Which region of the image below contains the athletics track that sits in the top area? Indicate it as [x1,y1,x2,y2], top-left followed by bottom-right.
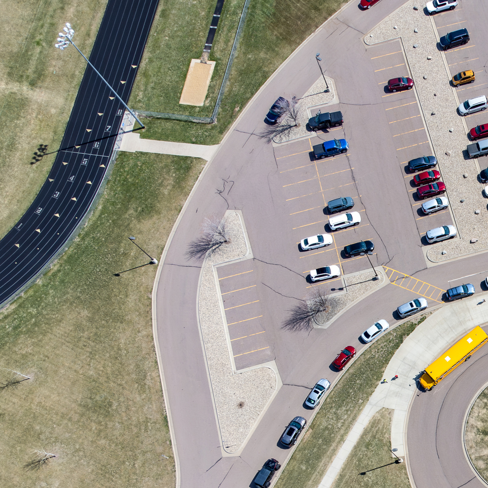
[0,0,159,303]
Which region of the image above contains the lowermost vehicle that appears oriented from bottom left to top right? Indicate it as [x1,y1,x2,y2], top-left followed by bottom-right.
[250,458,281,488]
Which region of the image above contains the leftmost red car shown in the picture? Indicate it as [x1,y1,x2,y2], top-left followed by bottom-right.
[329,346,358,371]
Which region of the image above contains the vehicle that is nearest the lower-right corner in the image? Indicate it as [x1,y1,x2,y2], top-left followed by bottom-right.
[412,323,488,392]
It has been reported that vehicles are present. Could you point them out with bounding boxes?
[412,323,488,392]
[279,415,307,449]
[425,224,458,243]
[386,75,414,92]
[407,154,438,172]
[329,346,358,371]
[451,70,477,87]
[411,170,442,187]
[458,96,488,116]
[307,109,345,131]
[396,297,430,319]
[479,165,488,183]
[264,94,291,125]
[415,181,448,199]
[327,211,362,231]
[343,241,375,257]
[465,139,488,159]
[311,138,350,159]
[325,196,356,214]
[308,264,341,281]
[444,283,477,302]
[425,0,460,16]
[468,124,488,142]
[250,458,281,488]
[302,378,331,410]
[419,197,451,215]
[299,233,334,251]
[439,27,471,49]
[358,320,391,344]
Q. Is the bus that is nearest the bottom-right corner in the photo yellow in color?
Yes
